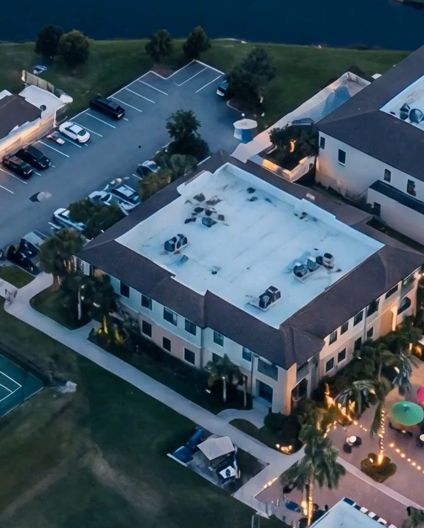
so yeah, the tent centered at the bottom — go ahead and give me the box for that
[197,431,243,462]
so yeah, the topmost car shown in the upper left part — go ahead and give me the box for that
[94,96,121,117]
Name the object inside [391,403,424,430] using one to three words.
umbrella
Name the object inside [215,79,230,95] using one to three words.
car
